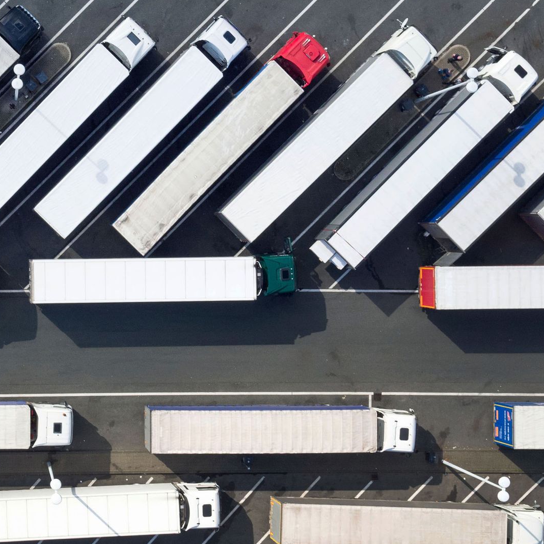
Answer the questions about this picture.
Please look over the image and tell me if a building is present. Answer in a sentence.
No, the picture doesn't show any building.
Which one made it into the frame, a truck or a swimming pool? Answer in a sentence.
Looking from above, you can make out a truck.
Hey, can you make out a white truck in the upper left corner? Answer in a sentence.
Yes, looking in the upper left corner, one can make out a white truck.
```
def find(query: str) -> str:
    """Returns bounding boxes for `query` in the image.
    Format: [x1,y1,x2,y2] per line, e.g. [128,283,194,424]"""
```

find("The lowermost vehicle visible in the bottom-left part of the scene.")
[0,479,221,542]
